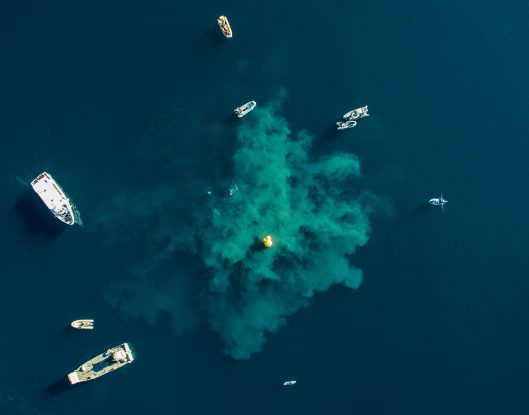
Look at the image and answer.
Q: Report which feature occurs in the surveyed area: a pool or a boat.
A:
boat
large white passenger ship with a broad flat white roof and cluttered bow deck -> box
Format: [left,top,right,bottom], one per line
[31,173,75,221]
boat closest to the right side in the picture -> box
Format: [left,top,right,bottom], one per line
[428,190,450,212]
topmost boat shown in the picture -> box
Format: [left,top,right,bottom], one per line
[216,13,232,38]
